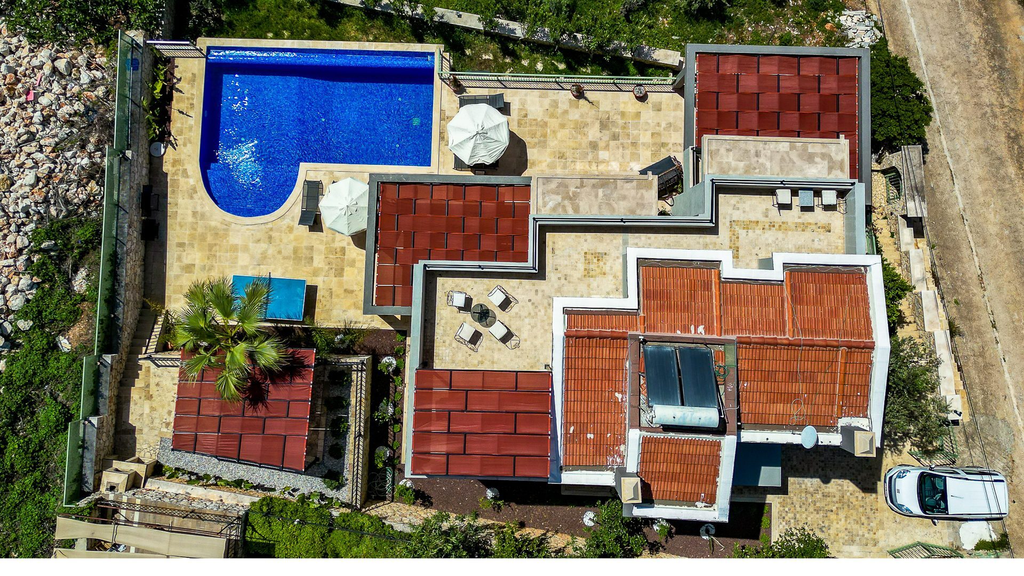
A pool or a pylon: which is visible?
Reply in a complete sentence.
I can see a pool in this picture.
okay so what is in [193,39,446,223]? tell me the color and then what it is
blue swimming pool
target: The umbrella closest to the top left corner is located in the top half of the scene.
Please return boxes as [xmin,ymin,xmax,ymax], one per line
[318,177,369,236]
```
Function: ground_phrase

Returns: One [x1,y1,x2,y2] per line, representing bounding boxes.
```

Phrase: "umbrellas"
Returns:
[448,105,508,164]
[318,177,369,236]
